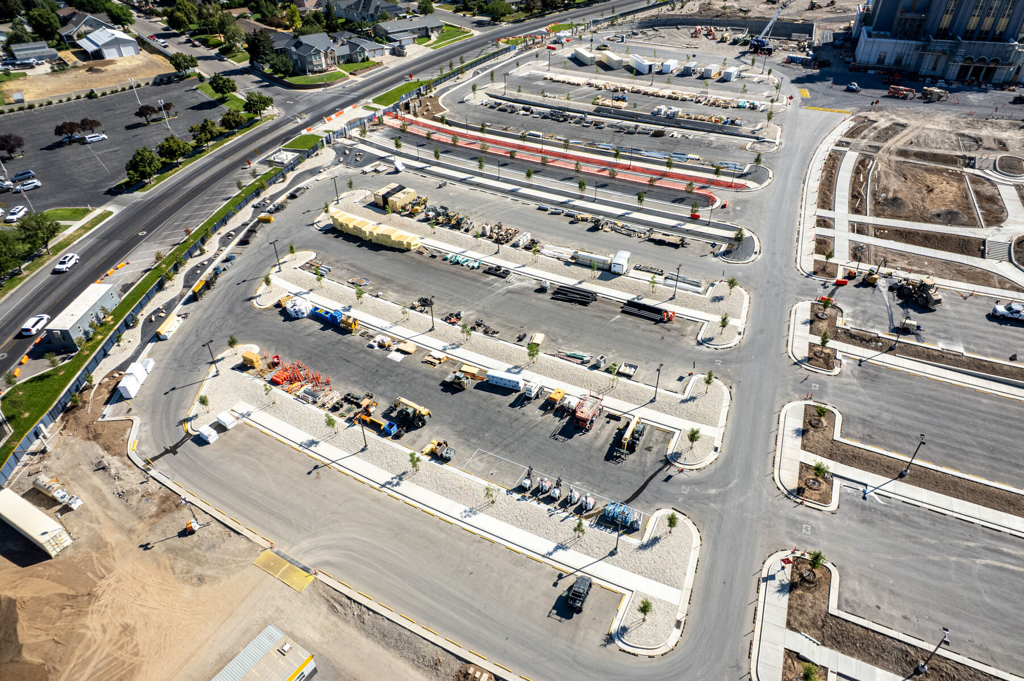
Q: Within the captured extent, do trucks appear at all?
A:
Yes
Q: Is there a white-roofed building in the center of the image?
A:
No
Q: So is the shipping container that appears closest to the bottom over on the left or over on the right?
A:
left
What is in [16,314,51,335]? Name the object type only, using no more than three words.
car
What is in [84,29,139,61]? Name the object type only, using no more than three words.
building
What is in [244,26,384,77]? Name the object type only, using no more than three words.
house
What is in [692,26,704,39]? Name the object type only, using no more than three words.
vehicle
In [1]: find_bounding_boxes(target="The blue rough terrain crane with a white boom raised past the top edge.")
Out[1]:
[735,0,792,56]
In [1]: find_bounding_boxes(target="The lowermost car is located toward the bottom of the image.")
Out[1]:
[563,572,594,621]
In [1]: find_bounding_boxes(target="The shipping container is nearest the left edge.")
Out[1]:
[0,483,72,552]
